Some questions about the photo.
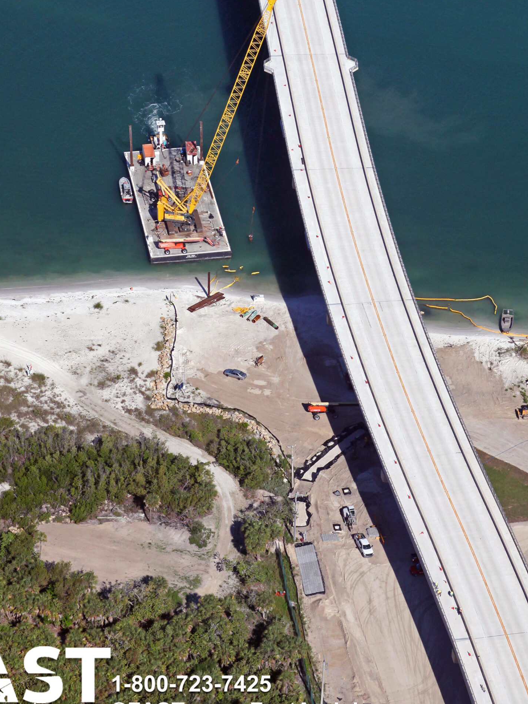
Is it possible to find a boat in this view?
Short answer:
Yes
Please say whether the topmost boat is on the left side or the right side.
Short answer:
left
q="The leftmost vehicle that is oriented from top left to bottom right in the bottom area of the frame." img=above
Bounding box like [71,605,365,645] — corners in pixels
[352,534,374,560]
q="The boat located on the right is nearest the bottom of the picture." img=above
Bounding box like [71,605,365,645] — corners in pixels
[501,307,514,334]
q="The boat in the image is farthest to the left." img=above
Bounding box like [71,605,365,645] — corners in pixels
[119,174,134,205]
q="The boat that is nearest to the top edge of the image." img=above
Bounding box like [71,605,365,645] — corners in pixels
[148,109,173,148]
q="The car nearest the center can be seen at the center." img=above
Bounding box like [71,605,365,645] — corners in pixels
[224,368,248,380]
